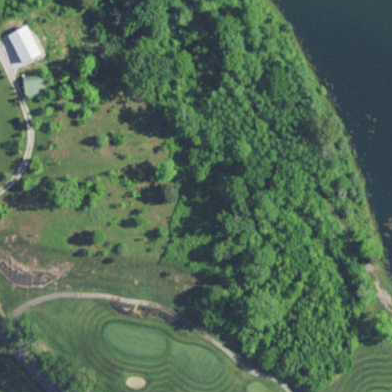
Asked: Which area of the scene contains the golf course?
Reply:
bottom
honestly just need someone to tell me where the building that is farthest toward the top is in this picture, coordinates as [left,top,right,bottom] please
[8,26,42,64]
